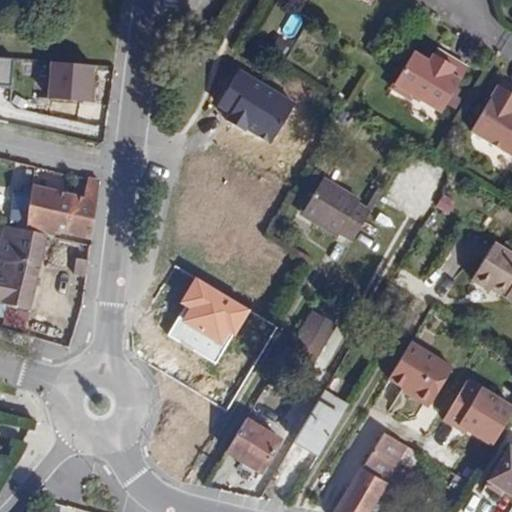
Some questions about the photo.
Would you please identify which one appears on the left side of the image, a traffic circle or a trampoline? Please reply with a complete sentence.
What appears on the left side of the image is a traffic circle.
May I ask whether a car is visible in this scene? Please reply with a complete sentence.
Yes, the picture does show a car.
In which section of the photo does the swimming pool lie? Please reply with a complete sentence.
The swimming pool is located in the top region of the scene.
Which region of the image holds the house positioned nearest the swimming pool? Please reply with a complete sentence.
The house positioned nearest the swimming pool is located in the top region of the scene.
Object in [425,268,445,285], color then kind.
white car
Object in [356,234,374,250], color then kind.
white camper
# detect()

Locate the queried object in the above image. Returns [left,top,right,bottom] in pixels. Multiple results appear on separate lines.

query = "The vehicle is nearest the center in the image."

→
[328,240,344,258]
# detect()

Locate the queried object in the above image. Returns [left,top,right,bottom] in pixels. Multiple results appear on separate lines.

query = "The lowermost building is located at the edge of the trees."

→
[332,466,386,512]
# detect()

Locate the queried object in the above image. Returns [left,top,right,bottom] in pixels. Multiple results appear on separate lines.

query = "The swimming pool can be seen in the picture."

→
[280,14,300,38]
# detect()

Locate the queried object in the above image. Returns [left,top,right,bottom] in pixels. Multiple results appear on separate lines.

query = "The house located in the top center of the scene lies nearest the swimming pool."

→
[216,70,294,140]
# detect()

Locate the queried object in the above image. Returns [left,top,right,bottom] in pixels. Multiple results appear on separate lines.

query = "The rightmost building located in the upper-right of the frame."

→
[472,84,512,155]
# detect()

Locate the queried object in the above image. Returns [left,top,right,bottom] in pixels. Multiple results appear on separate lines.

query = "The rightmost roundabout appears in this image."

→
[48,351,152,454]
